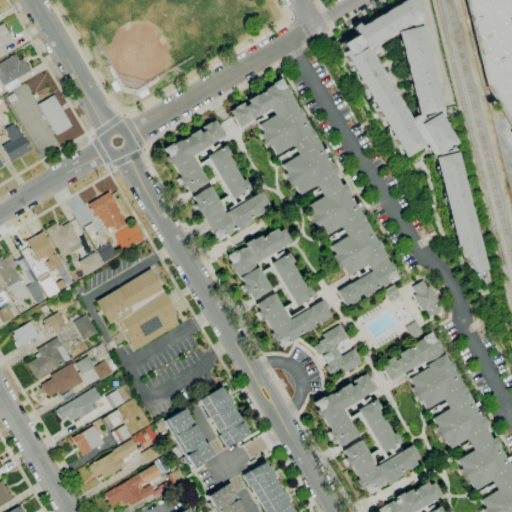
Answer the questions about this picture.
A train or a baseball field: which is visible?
baseball field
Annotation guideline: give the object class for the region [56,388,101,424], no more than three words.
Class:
house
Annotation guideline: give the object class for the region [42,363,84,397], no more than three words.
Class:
house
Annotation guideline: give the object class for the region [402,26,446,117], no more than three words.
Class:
building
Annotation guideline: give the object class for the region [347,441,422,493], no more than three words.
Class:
building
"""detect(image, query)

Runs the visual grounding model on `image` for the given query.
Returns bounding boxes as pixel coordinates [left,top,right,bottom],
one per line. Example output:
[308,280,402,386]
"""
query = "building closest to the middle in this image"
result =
[228,228,289,299]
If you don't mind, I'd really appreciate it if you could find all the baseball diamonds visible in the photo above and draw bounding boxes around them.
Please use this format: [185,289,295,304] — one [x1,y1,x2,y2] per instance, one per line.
[108,20,172,94]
